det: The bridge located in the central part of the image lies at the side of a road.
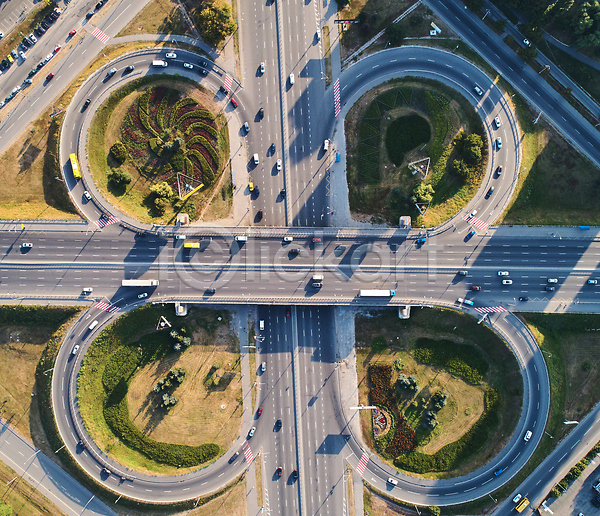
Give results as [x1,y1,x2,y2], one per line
[156,225,434,306]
